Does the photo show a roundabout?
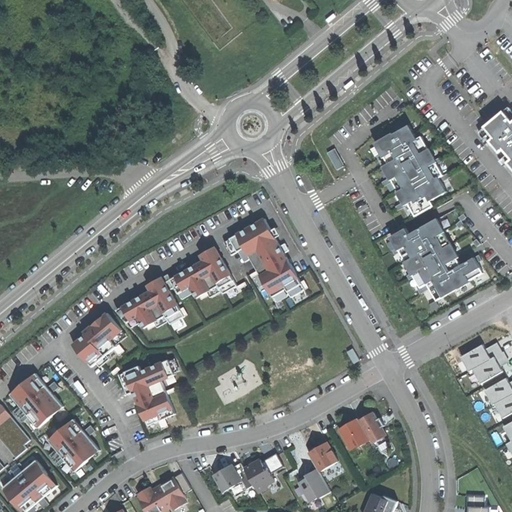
Yes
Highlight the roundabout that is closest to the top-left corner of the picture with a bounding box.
[225,98,279,152]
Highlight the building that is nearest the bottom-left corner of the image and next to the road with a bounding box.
[2,461,62,512]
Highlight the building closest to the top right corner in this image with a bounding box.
[475,108,512,172]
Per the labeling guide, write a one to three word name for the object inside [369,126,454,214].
building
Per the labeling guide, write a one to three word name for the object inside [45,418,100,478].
house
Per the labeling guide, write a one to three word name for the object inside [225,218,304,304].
house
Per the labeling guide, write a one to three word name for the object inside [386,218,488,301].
building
